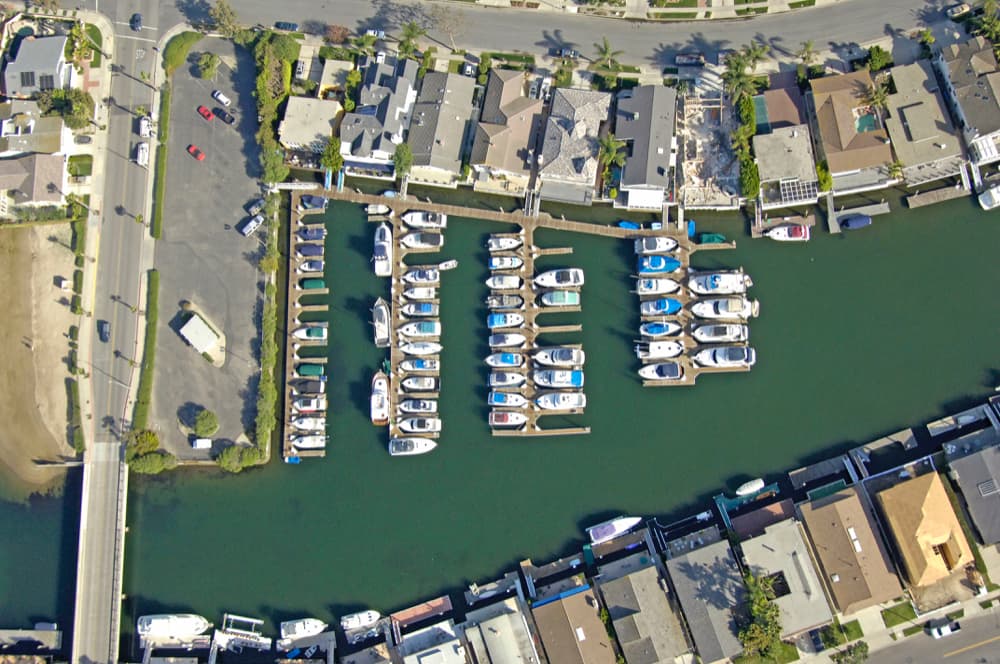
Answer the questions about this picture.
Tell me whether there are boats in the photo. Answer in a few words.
Yes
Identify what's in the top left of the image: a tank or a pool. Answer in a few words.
pool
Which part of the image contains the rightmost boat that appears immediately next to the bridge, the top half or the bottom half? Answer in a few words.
bottom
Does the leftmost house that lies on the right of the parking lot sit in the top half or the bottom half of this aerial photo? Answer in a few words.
top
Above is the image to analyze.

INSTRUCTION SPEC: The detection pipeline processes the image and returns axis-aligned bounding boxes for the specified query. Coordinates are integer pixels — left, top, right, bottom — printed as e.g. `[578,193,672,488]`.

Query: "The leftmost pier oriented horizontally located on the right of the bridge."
[141,635,211,648]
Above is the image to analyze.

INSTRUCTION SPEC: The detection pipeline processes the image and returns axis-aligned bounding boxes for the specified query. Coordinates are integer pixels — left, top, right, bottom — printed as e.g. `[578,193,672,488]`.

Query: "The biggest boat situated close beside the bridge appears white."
[134,617,209,640]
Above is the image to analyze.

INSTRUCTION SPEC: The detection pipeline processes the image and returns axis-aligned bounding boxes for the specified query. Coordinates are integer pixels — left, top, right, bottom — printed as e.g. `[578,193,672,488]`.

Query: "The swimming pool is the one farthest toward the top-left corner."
[10,26,34,60]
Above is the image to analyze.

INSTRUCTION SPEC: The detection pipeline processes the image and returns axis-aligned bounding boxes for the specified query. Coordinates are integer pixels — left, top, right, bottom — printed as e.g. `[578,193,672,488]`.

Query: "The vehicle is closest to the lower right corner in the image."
[930,621,958,636]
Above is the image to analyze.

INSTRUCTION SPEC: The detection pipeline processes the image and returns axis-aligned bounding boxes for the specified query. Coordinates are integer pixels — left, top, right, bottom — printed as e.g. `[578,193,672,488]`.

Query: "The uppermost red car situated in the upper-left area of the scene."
[196,104,213,120]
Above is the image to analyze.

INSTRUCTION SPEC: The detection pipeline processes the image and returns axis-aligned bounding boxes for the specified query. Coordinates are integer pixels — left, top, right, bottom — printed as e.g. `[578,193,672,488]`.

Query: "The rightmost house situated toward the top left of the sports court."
[612,87,677,209]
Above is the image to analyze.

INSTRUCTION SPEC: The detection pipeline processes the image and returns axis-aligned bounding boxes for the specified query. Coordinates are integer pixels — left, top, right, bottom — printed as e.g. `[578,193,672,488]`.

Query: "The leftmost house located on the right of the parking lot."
[279,60,354,156]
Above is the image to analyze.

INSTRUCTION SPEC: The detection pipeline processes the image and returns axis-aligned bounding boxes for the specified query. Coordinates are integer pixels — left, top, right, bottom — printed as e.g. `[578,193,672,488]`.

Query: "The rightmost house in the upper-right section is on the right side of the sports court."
[933,35,1000,165]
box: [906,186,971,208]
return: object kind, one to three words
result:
pier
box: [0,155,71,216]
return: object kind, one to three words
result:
house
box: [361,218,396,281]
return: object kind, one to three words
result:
boat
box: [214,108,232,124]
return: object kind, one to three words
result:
car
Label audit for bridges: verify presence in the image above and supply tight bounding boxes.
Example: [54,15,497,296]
[71,441,131,664]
